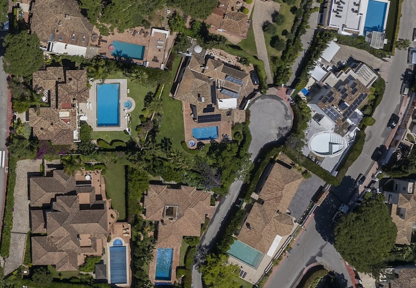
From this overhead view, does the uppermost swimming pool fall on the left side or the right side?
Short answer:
right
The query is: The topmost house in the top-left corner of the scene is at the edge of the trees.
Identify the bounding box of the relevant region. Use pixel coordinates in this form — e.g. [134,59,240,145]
[30,0,99,58]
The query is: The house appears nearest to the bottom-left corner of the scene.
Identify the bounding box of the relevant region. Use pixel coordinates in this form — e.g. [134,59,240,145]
[29,170,108,272]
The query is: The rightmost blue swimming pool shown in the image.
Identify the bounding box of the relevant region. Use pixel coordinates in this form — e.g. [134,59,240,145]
[363,0,389,36]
